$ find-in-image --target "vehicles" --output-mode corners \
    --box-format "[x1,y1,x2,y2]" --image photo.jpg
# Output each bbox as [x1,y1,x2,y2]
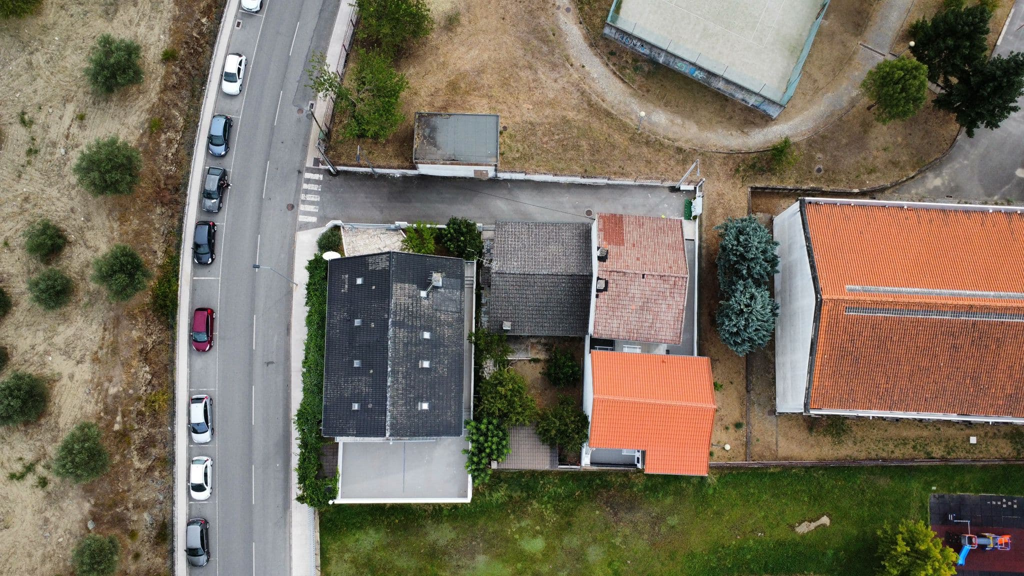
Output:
[244,0,264,12]
[221,54,248,96]
[207,115,234,157]
[192,221,218,265]
[188,455,214,501]
[183,516,212,568]
[190,308,216,351]
[188,395,215,444]
[202,168,228,212]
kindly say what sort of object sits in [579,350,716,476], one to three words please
house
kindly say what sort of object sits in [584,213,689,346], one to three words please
house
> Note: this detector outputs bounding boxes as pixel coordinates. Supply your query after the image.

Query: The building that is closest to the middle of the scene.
[481,220,593,337]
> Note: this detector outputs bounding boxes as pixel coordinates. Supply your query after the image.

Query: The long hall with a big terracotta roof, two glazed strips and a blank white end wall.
[776,196,1024,428]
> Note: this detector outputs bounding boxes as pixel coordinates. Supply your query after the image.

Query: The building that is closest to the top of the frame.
[415,113,499,175]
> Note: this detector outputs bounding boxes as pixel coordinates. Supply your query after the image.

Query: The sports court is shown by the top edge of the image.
[603,0,835,119]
